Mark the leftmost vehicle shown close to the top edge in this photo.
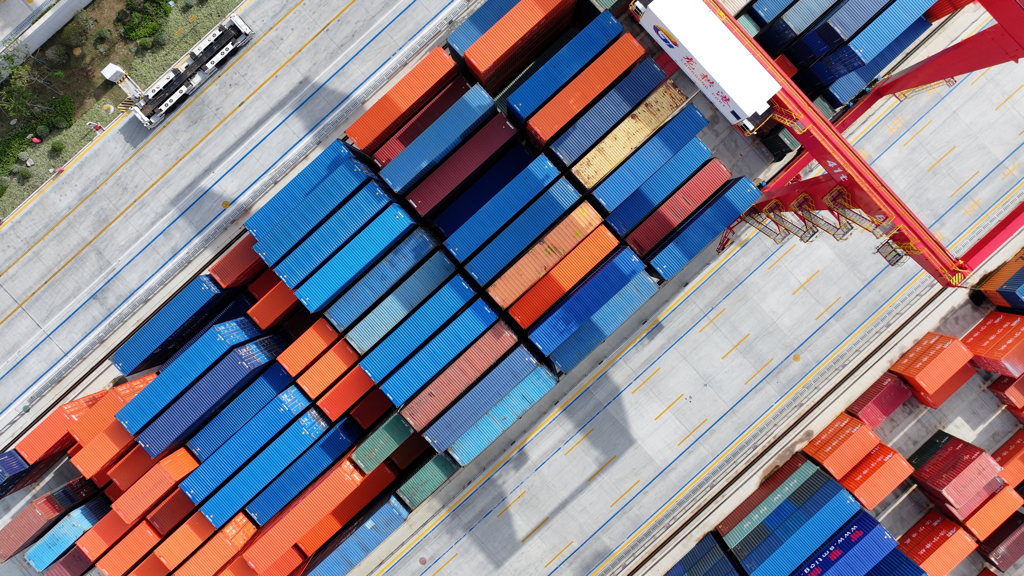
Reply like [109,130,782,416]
[130,12,258,131]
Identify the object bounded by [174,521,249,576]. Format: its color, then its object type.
orange shipping container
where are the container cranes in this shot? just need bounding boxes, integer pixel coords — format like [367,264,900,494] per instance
[617,0,1024,293]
